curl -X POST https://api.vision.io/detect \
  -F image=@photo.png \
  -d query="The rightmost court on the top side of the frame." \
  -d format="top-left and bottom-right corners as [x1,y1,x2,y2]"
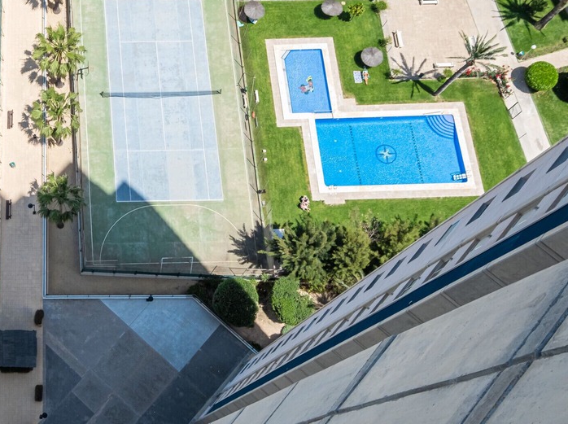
[73,0,264,276]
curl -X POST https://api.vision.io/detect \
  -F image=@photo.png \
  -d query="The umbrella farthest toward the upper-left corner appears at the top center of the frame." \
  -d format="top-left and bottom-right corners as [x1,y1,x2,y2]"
[240,1,264,21]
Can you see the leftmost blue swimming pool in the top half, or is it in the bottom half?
top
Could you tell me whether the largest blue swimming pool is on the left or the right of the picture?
right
